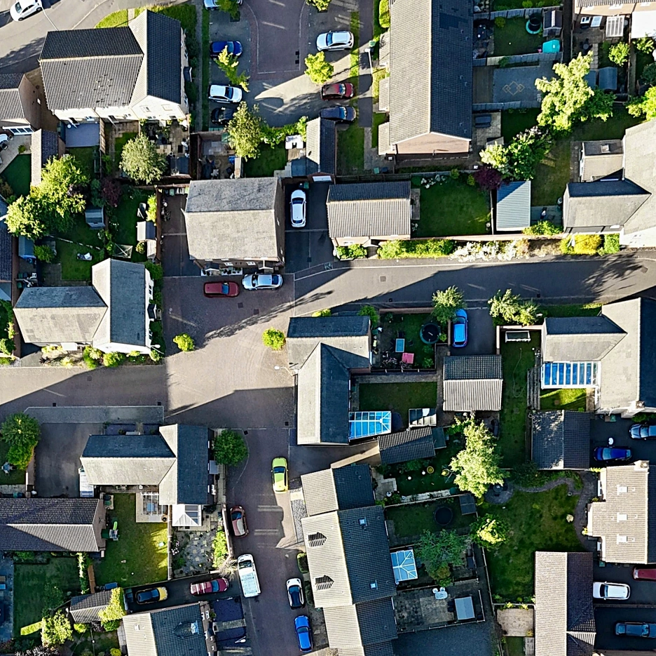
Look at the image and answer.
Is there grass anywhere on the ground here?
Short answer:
Yes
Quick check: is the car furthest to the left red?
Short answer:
No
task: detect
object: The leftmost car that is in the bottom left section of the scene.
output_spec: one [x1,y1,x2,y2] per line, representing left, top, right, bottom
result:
[134,586,165,603]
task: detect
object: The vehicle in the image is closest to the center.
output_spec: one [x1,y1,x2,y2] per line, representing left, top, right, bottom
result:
[243,272,282,291]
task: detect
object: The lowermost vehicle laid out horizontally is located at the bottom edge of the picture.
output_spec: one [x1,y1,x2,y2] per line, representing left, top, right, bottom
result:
[615,619,656,639]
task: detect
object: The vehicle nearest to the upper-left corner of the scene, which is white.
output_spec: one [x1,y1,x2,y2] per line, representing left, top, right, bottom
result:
[12,0,41,21]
